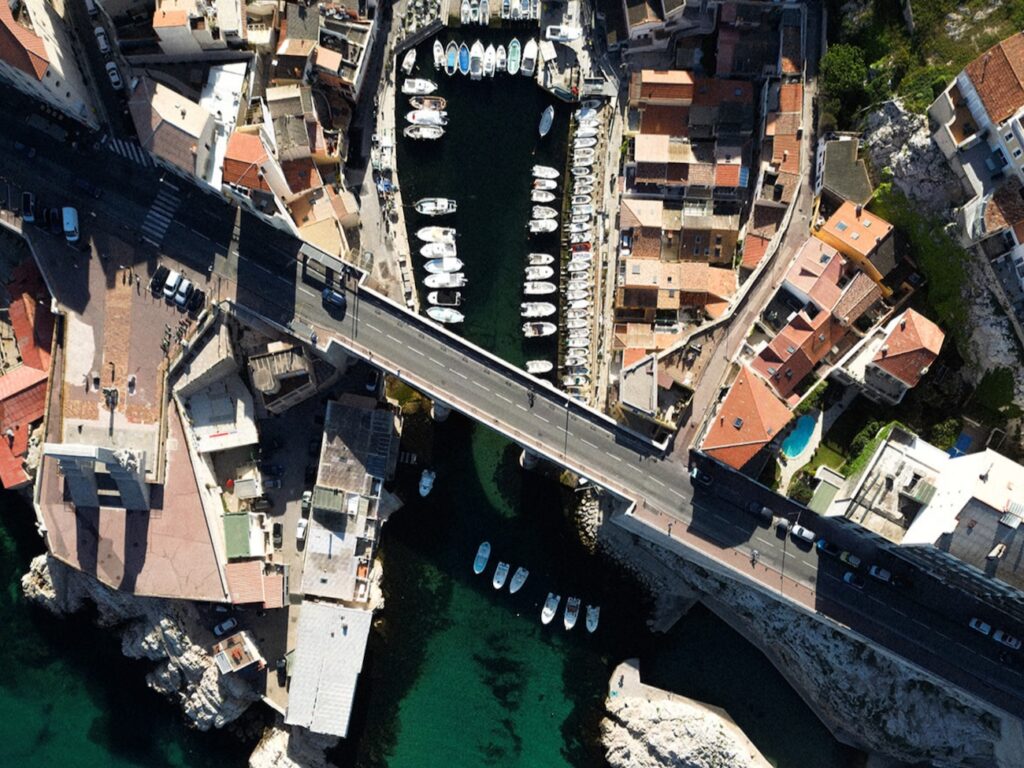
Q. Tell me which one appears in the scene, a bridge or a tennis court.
bridge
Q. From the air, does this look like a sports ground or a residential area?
residential area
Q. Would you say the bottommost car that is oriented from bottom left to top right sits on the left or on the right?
left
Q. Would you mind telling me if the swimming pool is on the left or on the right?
right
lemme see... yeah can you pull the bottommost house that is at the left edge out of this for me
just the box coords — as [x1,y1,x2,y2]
[0,421,36,496]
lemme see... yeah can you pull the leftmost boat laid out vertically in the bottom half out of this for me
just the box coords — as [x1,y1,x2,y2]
[419,466,435,496]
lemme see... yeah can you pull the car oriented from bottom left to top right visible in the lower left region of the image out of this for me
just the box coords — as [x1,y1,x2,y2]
[212,616,237,637]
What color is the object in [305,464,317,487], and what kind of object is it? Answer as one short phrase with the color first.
black vehicle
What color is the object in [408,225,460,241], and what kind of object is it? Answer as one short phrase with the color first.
white boat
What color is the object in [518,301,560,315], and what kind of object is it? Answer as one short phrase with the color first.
white boat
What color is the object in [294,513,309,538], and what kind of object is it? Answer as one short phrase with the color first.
white vehicle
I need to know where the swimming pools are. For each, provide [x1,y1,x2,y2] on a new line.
[779,413,819,461]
